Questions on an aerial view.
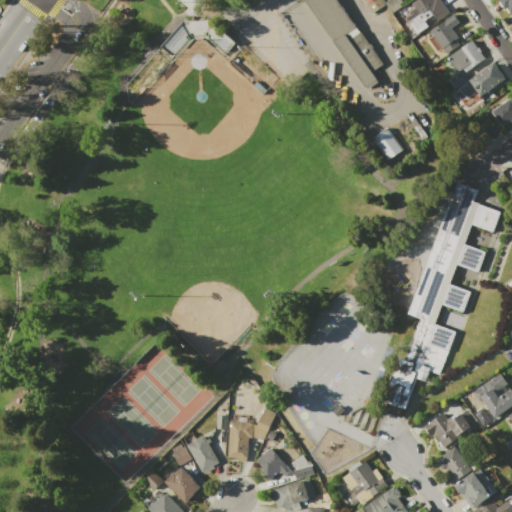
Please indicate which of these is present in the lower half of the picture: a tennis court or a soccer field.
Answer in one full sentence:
It is a tennis court that can be seen in the lower half of the picture.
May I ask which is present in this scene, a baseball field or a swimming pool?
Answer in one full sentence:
I can see a baseball field in this picture.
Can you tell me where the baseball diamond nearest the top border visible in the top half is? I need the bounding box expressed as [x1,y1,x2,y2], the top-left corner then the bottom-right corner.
[128,39,346,292]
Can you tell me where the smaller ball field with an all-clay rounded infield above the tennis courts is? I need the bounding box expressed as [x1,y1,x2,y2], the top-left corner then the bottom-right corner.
[173,282,255,362]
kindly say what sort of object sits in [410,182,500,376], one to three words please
building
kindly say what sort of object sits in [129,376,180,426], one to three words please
tennis court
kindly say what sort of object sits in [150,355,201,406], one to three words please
tennis court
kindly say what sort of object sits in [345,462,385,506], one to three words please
house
